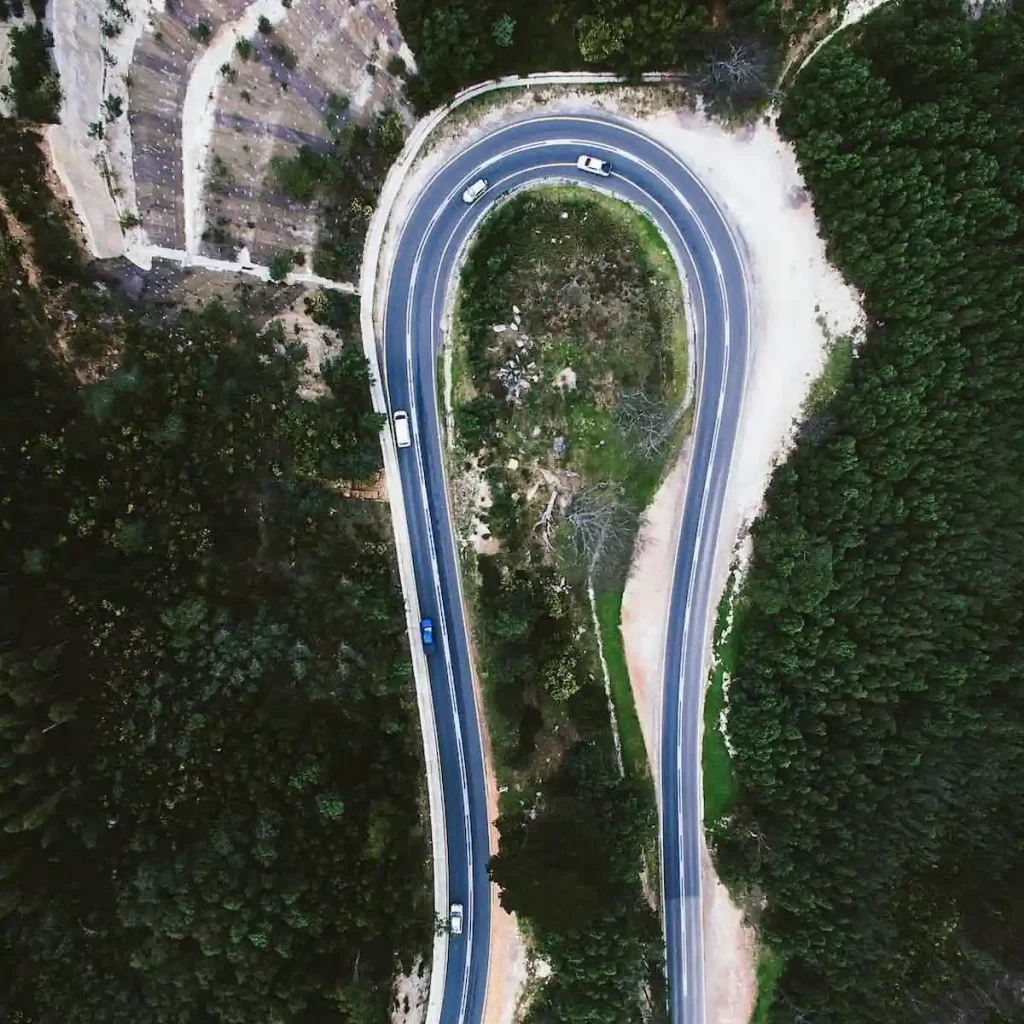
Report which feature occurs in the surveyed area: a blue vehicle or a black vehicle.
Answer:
blue vehicle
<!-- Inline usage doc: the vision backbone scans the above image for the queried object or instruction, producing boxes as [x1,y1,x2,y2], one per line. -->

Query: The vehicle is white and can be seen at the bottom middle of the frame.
[449,902,464,935]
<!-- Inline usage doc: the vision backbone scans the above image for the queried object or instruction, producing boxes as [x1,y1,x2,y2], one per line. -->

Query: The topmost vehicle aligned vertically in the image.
[392,410,411,448]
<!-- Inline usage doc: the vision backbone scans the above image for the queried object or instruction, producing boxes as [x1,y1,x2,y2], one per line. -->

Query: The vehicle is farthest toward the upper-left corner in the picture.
[462,177,489,203]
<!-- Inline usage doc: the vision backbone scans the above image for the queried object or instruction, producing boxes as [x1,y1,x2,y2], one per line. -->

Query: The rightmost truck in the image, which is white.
[575,154,613,175]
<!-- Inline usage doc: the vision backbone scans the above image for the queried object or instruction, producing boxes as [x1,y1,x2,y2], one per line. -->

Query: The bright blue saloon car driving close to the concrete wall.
[420,619,436,652]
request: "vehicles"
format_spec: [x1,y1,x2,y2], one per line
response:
[575,154,613,175]
[449,902,464,935]
[392,410,411,448]
[420,619,436,652]
[462,177,489,203]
